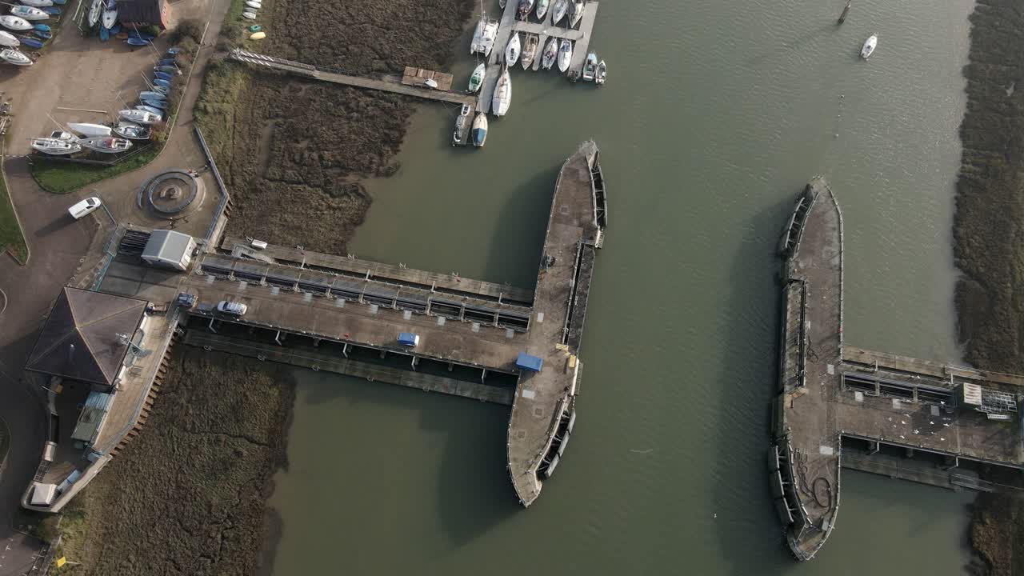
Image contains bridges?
Yes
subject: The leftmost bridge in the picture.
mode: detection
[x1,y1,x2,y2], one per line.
[182,235,537,407]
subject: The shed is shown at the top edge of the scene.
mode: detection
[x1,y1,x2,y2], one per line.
[115,0,167,31]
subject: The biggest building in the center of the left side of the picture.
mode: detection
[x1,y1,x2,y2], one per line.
[25,287,151,387]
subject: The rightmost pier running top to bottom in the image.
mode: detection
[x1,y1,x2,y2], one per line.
[765,175,846,559]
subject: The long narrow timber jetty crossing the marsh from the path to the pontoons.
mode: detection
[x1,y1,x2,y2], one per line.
[277,59,478,147]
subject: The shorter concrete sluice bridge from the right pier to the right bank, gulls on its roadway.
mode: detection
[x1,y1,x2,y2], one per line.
[828,347,1024,508]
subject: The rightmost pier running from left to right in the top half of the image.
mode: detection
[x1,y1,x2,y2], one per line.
[510,20,583,41]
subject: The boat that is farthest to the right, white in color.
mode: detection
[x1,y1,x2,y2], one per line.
[858,33,877,62]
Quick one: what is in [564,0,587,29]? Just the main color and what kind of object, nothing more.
white boat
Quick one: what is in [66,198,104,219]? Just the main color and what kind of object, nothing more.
white vehicle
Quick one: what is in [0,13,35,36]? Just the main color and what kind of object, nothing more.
white boat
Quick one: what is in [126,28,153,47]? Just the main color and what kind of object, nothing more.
blue boat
